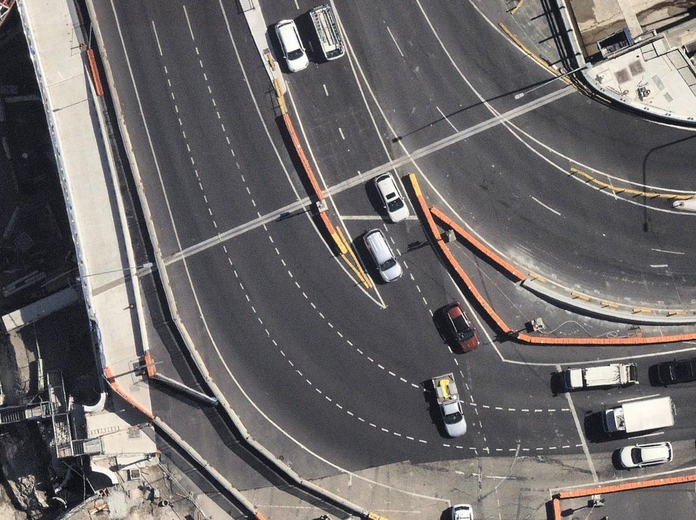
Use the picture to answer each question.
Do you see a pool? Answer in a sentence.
No, no pool can be seen from above.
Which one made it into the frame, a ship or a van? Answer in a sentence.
Visible in the photo is a van.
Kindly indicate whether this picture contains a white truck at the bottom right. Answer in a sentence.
Yes, at the bottom right there is a white truck.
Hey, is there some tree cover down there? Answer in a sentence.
No, the picture contains no tree cover.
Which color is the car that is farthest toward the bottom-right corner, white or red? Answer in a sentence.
The car that is farthest toward the bottom-right corner is white.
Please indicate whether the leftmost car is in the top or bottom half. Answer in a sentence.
The leftmost car is in the top half of the image.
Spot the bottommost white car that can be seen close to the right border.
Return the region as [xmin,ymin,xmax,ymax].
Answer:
[620,444,675,471]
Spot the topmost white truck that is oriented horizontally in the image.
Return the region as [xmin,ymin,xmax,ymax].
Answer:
[562,362,640,394]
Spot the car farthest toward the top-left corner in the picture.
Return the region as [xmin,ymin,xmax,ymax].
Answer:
[275,17,309,74]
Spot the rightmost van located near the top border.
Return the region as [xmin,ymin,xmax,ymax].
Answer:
[309,2,349,63]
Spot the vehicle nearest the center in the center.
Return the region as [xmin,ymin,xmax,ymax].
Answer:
[366,226,402,285]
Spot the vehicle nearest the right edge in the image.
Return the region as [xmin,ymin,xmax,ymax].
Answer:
[656,362,696,387]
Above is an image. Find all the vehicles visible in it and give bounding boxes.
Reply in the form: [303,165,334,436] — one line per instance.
[275,17,309,74]
[656,362,696,387]
[562,362,640,394]
[436,372,468,439]
[602,399,679,436]
[375,171,409,225]
[445,300,482,355]
[366,226,402,285]
[620,444,675,471]
[309,2,349,63]
[452,504,475,520]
